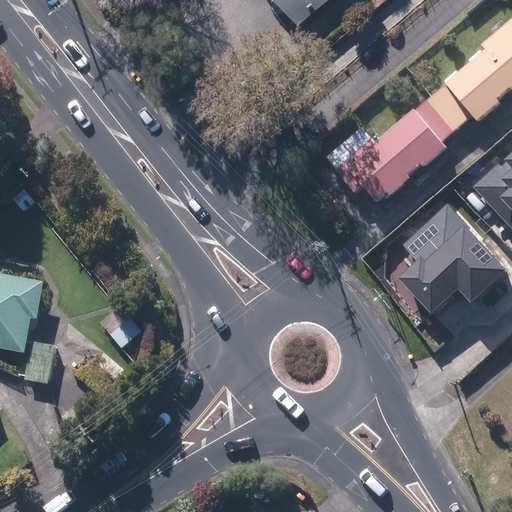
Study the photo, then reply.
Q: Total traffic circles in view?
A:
1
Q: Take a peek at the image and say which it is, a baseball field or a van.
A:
van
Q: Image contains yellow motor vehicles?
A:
No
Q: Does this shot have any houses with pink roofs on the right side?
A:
Yes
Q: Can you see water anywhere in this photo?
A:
No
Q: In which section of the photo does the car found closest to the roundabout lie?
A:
bottom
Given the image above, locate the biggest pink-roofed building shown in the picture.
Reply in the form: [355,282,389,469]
[336,100,456,202]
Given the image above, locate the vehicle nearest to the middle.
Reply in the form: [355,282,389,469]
[286,252,312,279]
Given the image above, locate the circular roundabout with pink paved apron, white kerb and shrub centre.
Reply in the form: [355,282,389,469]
[270,322,341,393]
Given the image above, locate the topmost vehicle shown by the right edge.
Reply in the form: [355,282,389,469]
[465,191,493,220]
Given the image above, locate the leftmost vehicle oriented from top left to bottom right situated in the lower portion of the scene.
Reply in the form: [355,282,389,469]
[207,305,230,334]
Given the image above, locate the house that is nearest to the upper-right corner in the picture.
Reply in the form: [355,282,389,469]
[428,21,512,130]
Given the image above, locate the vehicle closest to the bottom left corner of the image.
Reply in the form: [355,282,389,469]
[40,486,74,512]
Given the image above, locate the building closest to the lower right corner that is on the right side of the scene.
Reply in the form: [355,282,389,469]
[399,204,506,314]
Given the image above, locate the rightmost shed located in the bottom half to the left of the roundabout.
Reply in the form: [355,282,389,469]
[100,312,140,348]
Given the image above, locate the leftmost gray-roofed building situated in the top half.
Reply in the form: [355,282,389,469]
[270,0,328,34]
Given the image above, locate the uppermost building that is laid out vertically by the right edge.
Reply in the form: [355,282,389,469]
[474,151,512,229]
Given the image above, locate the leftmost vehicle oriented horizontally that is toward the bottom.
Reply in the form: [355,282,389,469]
[224,438,256,454]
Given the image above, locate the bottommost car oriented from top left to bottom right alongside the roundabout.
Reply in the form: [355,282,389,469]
[274,388,303,417]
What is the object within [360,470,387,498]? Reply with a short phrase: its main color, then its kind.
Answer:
white car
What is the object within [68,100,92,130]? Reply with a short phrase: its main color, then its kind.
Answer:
white car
